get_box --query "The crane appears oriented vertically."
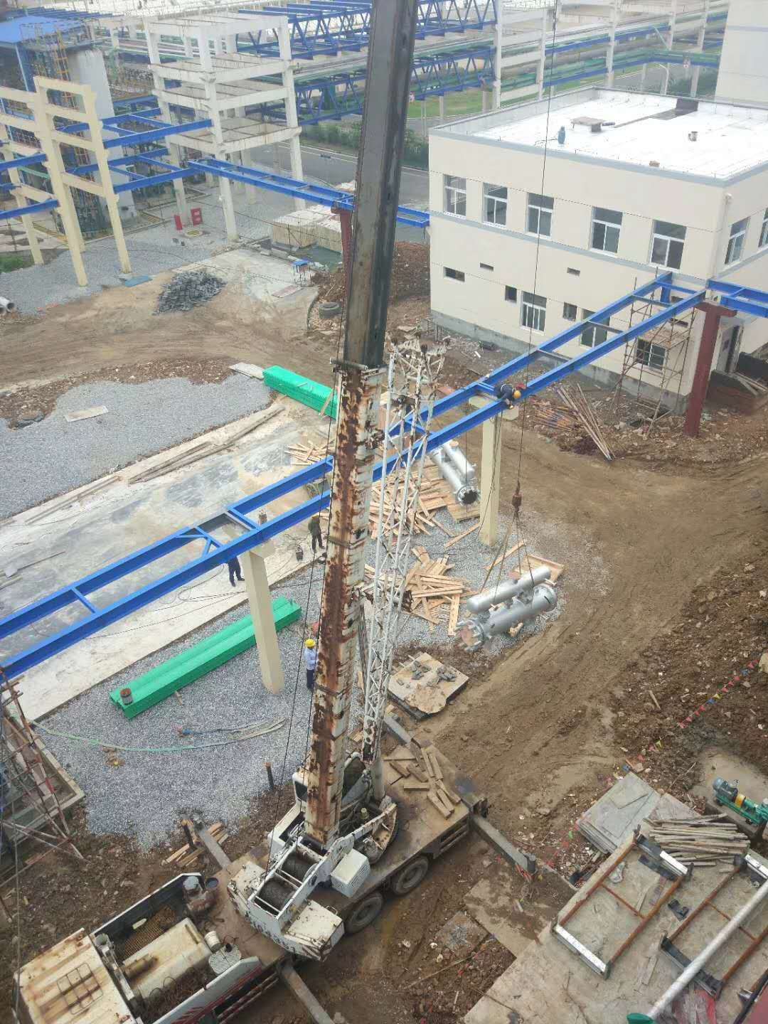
[17,0,554,1024]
